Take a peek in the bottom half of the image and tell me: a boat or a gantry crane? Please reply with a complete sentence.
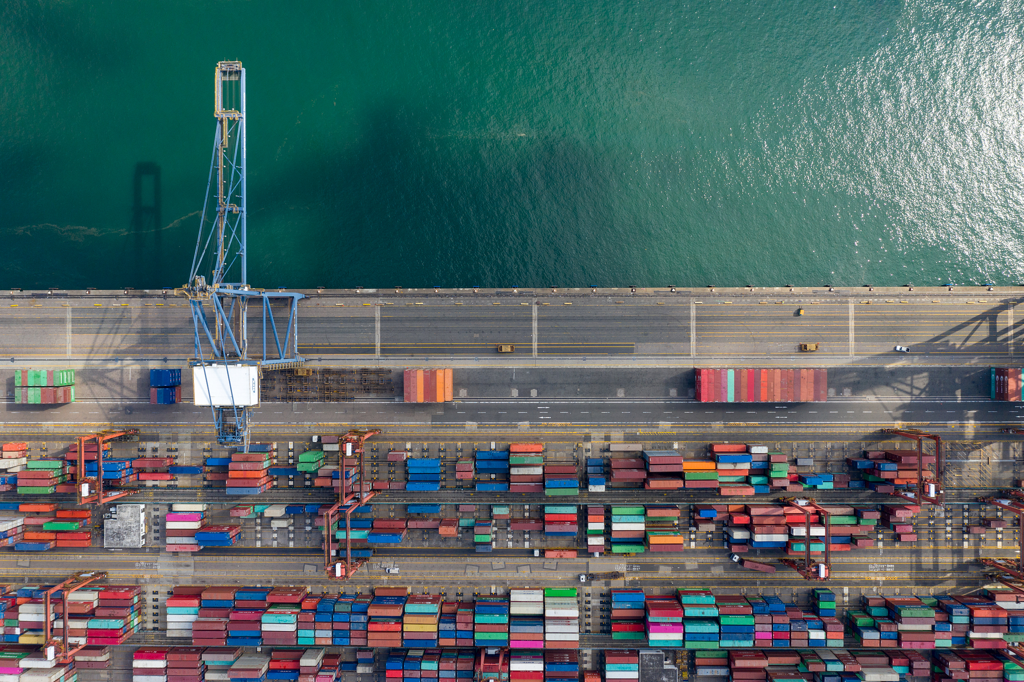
The feature located in the bottom half of the image is a gantry crane.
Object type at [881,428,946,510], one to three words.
container crane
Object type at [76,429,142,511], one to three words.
container crane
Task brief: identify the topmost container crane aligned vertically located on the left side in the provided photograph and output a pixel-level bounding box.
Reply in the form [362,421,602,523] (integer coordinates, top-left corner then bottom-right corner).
[171,57,314,453]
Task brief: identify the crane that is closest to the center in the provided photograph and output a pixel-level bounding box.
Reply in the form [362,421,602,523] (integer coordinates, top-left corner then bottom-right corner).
[338,429,385,512]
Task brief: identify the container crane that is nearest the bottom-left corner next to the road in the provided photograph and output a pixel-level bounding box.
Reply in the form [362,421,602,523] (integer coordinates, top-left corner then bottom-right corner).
[40,572,108,666]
